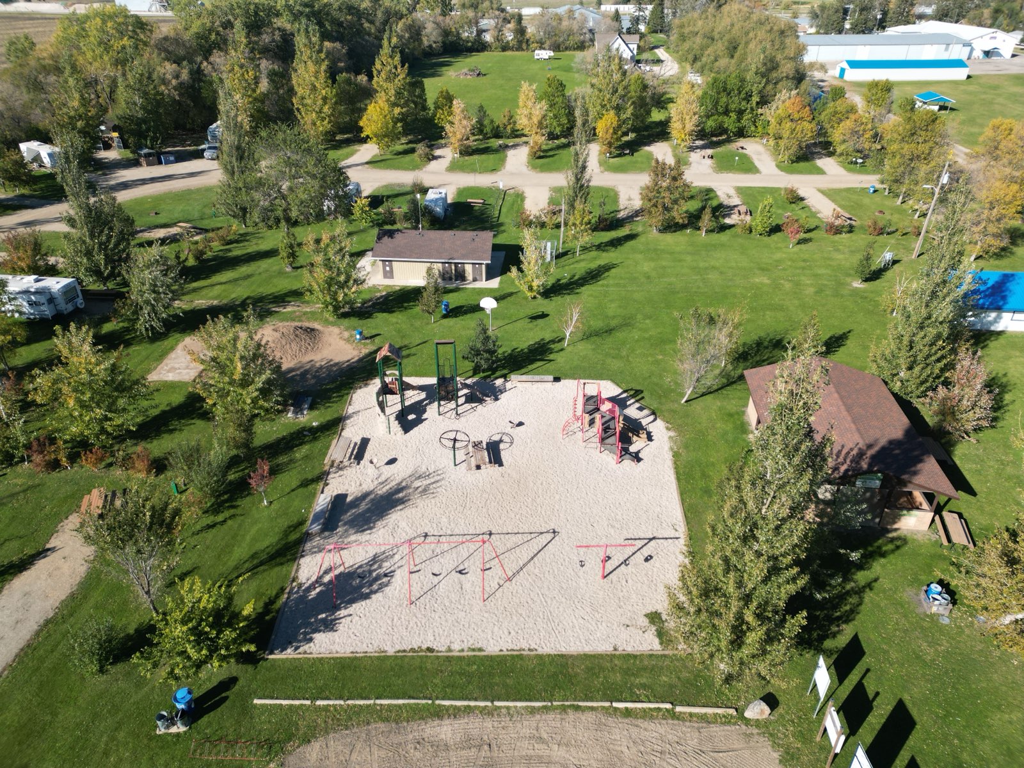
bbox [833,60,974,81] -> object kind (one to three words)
shed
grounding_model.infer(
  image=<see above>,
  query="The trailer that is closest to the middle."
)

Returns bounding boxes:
[426,177,455,218]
